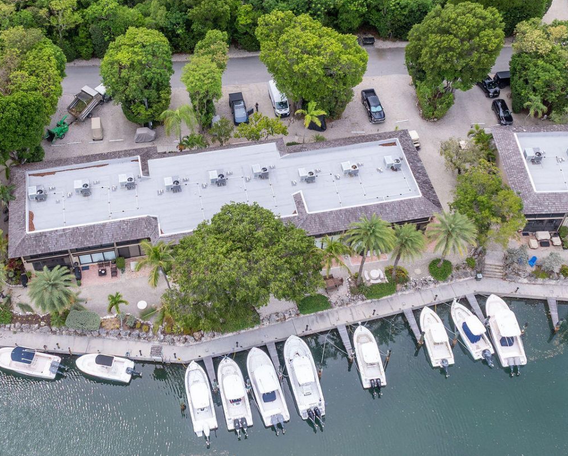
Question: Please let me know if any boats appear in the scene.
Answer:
Yes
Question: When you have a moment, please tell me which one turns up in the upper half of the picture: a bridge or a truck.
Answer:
truck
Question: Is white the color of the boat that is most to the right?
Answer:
Yes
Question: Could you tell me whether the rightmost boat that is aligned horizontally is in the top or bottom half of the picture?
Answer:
bottom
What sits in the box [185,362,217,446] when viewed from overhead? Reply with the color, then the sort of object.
white boat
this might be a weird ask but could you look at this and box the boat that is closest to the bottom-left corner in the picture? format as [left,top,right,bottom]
[0,346,73,381]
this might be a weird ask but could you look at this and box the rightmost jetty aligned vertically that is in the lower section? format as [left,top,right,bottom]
[546,298,562,332]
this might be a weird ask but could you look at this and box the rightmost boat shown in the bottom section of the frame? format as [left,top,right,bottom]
[487,296,530,379]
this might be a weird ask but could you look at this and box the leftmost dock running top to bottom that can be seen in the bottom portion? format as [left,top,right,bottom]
[203,354,219,388]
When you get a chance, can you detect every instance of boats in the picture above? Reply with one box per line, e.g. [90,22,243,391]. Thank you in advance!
[452,302,493,369]
[286,335,327,432]
[487,296,530,379]
[185,362,217,446]
[420,308,455,377]
[248,349,290,439]
[354,326,386,401]
[0,346,73,381]
[219,359,253,443]
[76,355,144,386]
